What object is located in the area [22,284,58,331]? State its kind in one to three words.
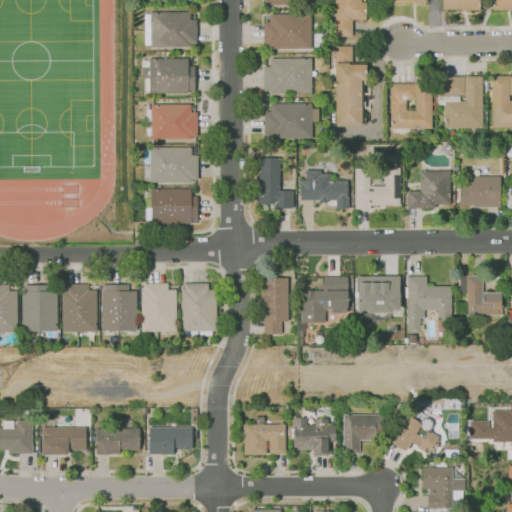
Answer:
house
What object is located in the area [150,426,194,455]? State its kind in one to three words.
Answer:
house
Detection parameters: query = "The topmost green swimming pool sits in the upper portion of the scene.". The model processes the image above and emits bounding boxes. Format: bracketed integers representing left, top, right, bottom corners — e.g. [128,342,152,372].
[424,154,451,168]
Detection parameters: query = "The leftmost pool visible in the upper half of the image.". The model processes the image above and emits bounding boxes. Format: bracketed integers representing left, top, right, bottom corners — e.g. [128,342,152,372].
[374,146,401,167]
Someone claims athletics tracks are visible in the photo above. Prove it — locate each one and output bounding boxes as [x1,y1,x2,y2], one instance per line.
[0,0,115,240]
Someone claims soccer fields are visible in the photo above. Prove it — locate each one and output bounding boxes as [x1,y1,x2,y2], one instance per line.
[0,0,100,179]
